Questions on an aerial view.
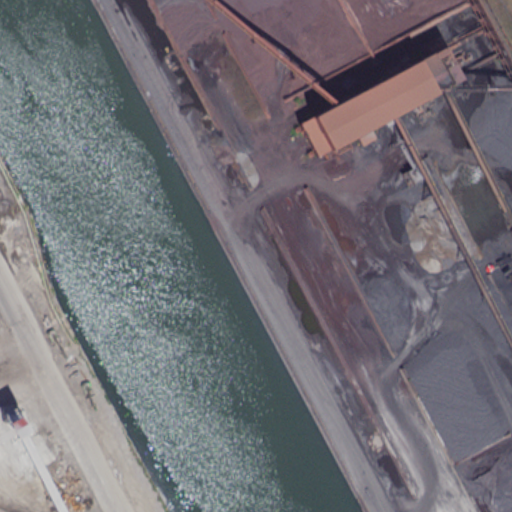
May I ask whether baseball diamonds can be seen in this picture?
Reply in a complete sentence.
No, the photo shows no baseball diamond.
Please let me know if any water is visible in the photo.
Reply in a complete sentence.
Yes, the picture does contain water.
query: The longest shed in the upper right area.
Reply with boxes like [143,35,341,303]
[304,46,460,158]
